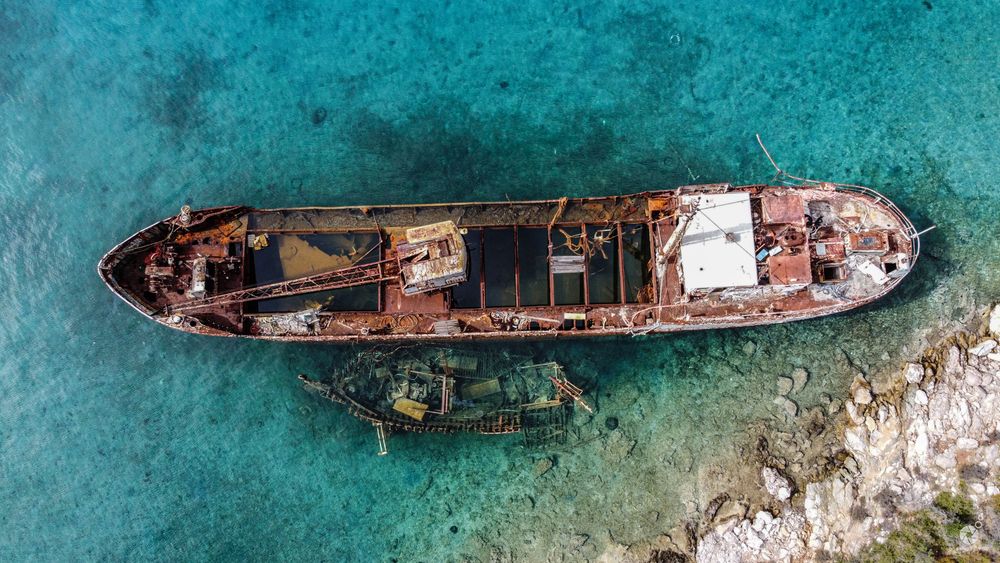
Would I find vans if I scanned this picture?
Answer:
No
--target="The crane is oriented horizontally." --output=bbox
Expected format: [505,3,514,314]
[162,225,475,316]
